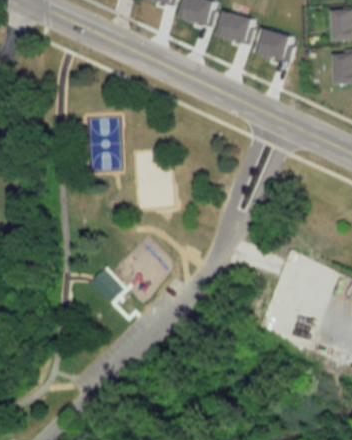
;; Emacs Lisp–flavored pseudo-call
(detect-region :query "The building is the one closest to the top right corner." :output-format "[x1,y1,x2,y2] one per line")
[331,8,352,40]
